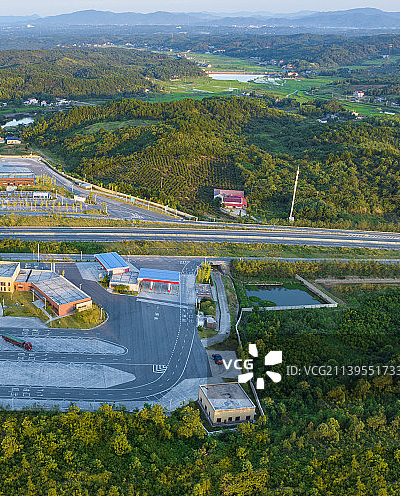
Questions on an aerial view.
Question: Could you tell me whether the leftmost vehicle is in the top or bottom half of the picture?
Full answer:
It is in the bottom half that the leftmost vehicle appears.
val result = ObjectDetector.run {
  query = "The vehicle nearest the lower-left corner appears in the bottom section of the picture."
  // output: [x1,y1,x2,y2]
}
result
[0,331,34,351]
